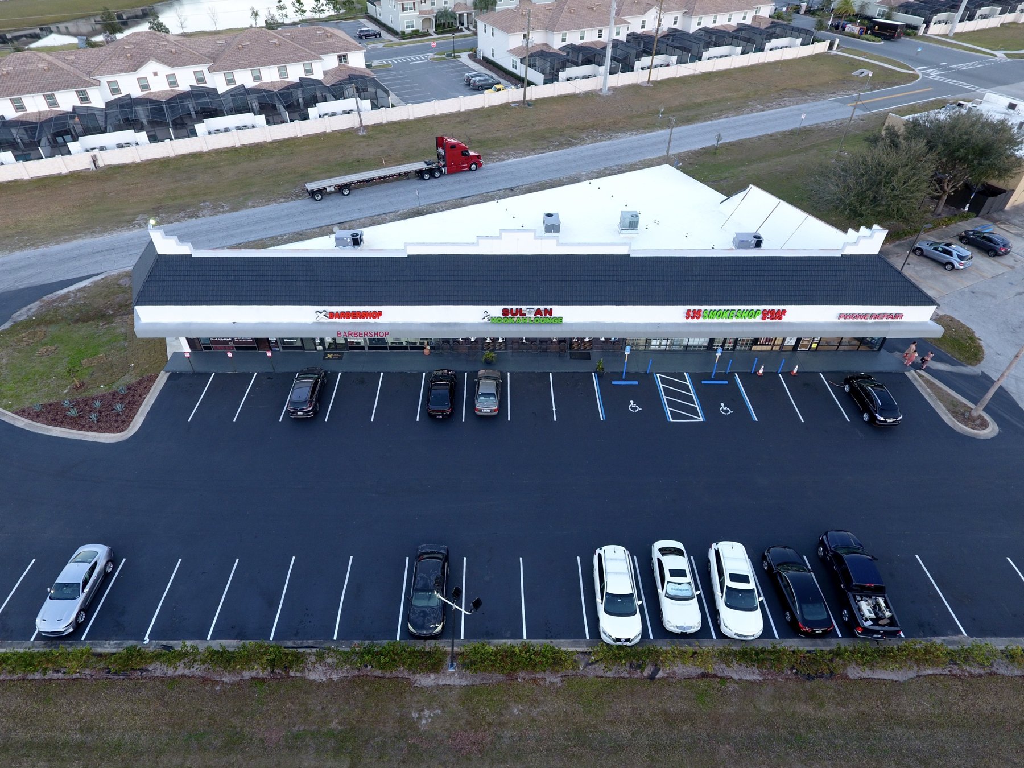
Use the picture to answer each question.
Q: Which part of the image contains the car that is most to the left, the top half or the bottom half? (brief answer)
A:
bottom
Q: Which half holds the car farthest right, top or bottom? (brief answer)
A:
top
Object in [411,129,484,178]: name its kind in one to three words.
truck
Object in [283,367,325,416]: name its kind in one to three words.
car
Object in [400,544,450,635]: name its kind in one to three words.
car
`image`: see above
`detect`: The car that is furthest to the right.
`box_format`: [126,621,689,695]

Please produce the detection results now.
[958,227,1021,258]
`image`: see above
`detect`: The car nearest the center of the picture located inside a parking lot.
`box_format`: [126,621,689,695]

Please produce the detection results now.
[471,366,505,415]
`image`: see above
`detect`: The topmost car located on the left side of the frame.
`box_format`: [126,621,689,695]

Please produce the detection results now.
[355,25,383,39]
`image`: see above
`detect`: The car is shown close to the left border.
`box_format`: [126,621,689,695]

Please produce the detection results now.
[28,544,112,633]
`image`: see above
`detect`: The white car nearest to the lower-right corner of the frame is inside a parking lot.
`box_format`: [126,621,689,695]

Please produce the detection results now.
[709,543,769,636]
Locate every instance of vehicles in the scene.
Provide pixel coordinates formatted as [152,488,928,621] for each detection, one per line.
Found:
[958,227,1021,258]
[764,545,838,633]
[400,544,450,635]
[652,544,707,633]
[861,13,910,38]
[819,531,913,642]
[709,543,769,636]
[411,129,484,178]
[28,544,112,633]
[468,71,501,89]
[593,547,647,643]
[283,367,325,416]
[355,25,383,39]
[913,238,975,270]
[422,366,457,416]
[471,366,505,415]
[847,374,906,427]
